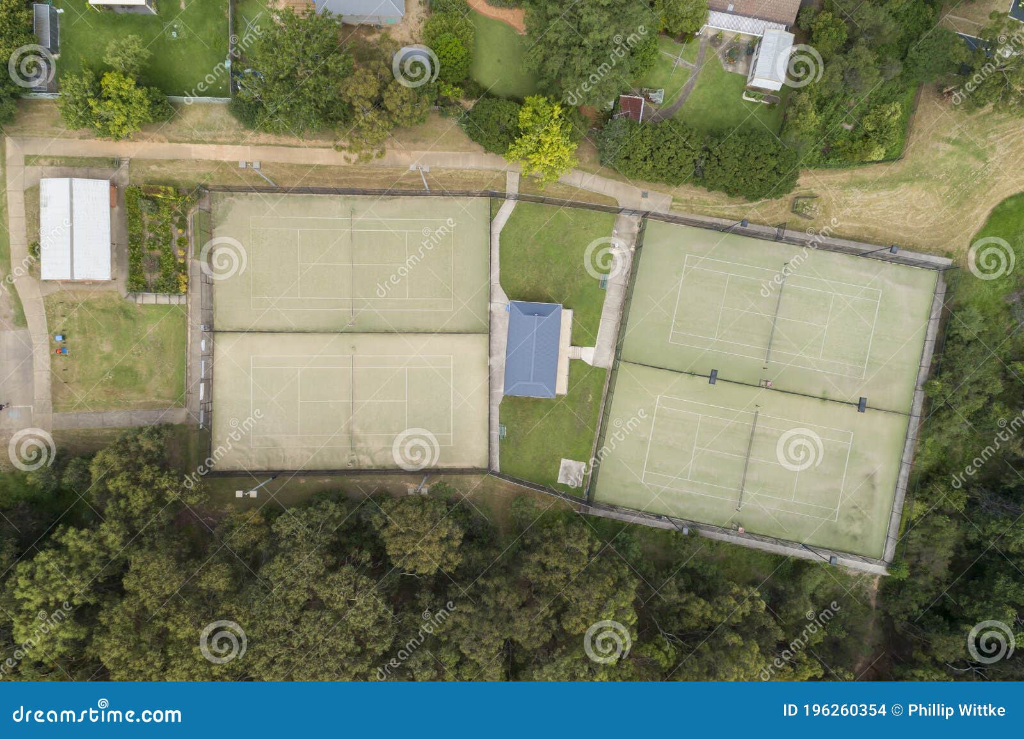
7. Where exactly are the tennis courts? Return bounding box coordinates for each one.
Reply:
[590,360,911,559]
[212,194,490,333]
[211,331,490,472]
[615,218,939,414]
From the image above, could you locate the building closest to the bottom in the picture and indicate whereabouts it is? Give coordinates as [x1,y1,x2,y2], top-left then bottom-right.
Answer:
[503,300,584,399]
